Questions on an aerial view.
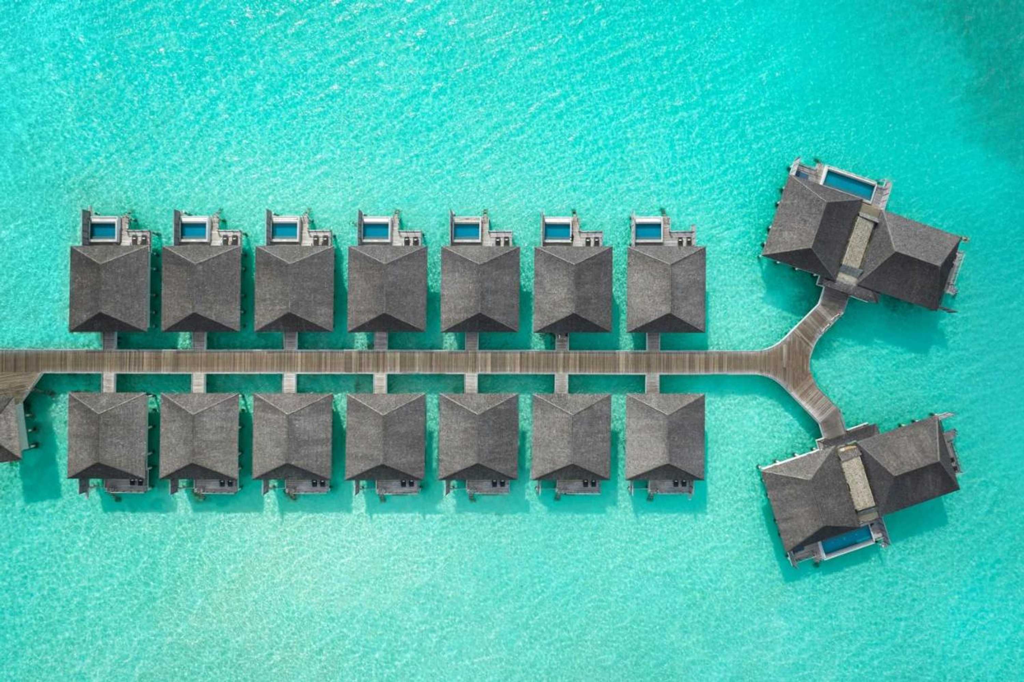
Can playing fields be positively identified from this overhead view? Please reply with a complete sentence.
No, the frame has no playing field in it.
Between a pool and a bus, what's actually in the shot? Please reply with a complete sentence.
I can see a pool in this picture.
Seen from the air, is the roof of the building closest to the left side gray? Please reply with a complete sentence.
Yes, the roof of the building closest to the left side is indeed gray.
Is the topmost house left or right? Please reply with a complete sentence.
The topmost house appears in the right half of the scene.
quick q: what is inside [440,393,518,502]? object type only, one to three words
house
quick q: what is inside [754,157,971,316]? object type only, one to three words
house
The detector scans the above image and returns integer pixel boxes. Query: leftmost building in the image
[0,397,44,462]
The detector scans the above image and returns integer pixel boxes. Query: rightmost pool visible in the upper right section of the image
[823,169,875,202]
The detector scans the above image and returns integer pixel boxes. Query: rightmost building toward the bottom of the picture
[754,412,970,568]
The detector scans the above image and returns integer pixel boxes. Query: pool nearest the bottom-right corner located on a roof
[821,525,873,556]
